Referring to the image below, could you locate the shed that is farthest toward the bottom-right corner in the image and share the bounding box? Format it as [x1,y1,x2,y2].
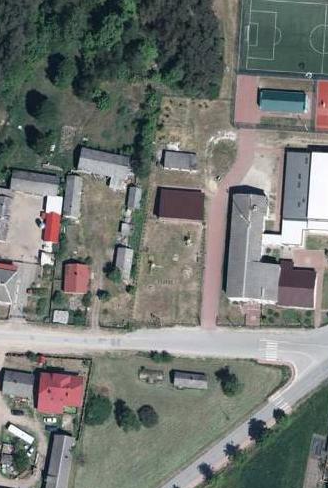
[173,371,208,389]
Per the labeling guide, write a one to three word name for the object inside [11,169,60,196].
barn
